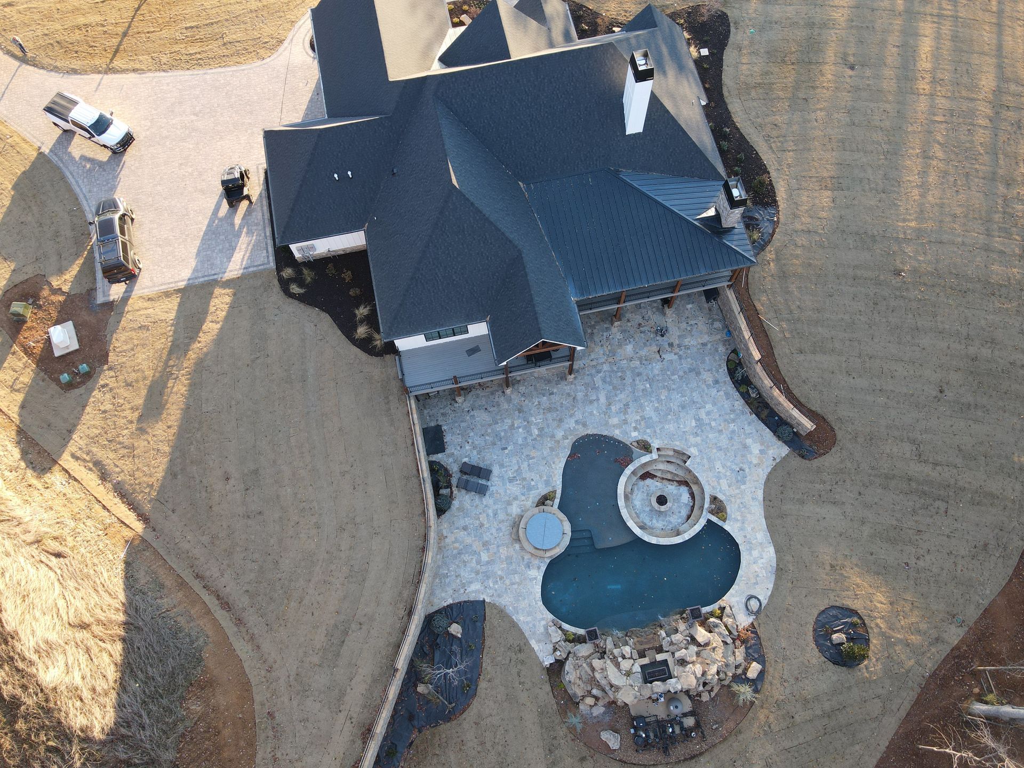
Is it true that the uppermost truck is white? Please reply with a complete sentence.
Yes, the uppermost truck is indeed white.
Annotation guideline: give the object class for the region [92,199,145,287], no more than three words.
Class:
car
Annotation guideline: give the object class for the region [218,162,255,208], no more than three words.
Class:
vehicle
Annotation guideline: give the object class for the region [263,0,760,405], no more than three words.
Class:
house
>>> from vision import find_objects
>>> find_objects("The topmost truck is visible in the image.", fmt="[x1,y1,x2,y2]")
[43,93,135,157]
